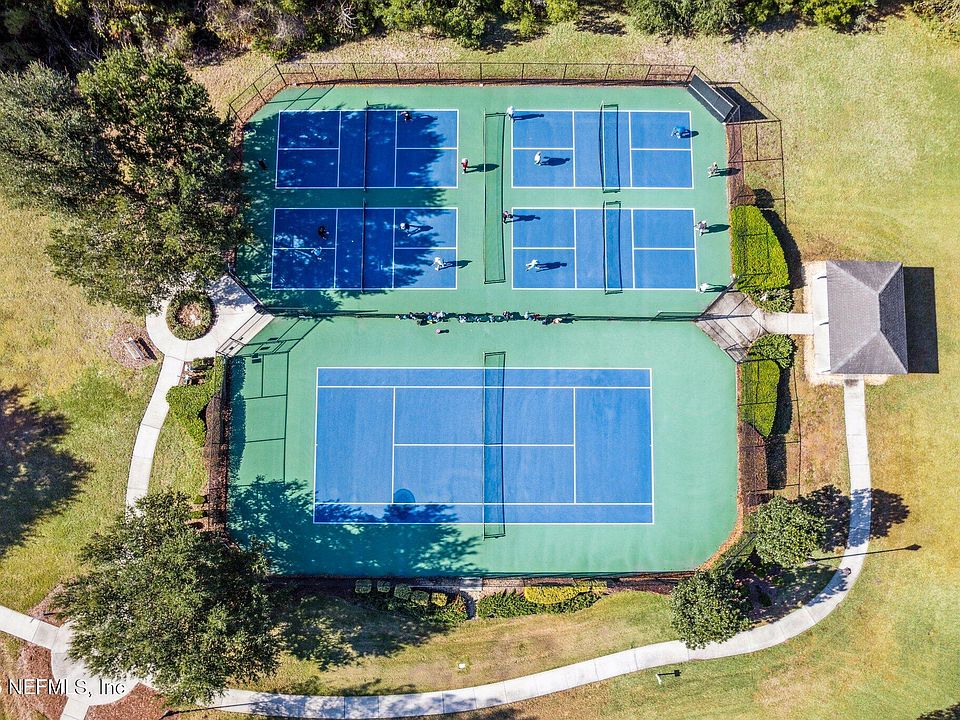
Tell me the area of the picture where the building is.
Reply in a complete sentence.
Look in the right portion of the view to spot the building.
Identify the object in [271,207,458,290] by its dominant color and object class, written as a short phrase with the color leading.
blue sports court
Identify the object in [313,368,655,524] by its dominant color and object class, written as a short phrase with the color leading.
blue tennis court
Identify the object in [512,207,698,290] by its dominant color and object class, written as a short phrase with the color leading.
blue sports court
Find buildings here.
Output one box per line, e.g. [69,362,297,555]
[813,260,908,375]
